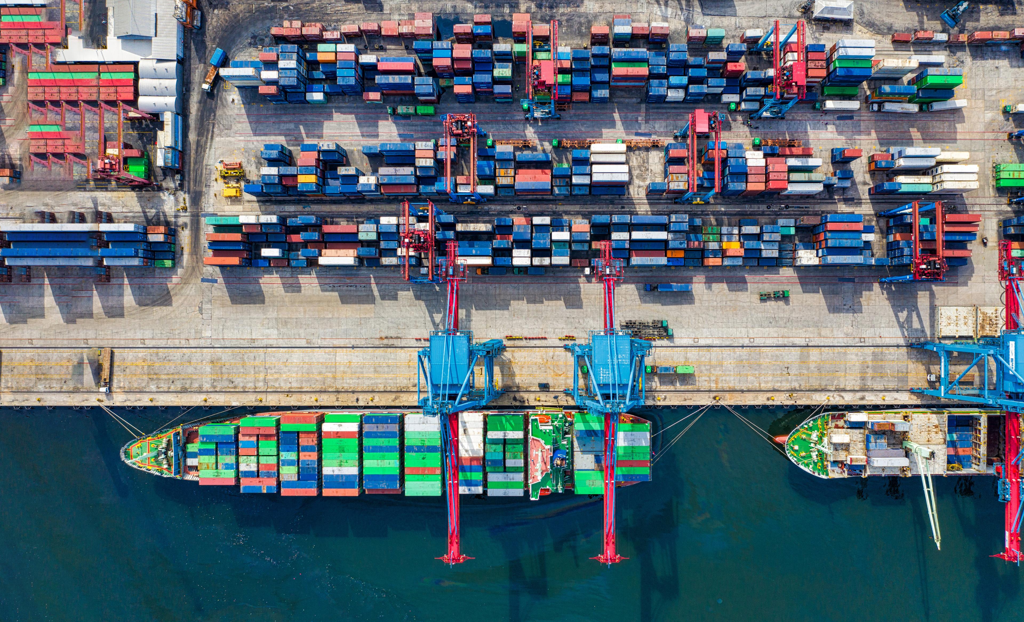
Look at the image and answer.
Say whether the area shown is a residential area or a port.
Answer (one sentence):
The area seen from above is a port.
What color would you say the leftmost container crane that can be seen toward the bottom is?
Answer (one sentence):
The color of the leftmost container crane that can be seen toward the bottom is blue.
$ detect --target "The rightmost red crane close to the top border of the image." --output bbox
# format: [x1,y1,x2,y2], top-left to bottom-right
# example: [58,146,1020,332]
[751,20,807,116]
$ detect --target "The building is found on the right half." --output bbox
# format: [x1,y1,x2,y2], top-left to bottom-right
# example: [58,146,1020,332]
[807,0,854,31]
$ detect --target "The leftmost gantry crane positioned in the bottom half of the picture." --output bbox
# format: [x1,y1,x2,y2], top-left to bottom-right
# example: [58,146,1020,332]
[418,239,506,573]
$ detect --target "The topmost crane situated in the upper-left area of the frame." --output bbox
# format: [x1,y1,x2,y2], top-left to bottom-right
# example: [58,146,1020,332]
[62,0,115,42]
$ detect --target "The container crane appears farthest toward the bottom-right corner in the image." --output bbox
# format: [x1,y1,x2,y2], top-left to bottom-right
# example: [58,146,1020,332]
[912,239,1024,573]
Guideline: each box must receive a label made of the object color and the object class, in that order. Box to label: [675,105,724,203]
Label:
red container crane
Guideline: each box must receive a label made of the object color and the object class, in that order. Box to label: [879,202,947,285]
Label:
red container crane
